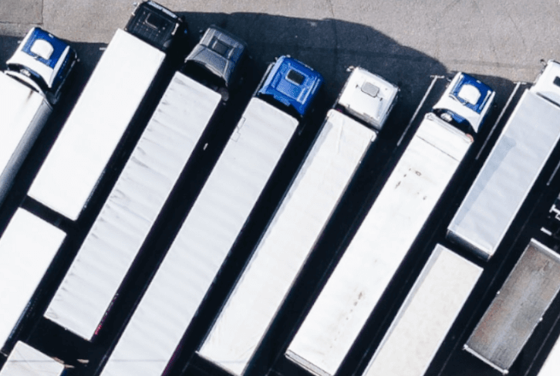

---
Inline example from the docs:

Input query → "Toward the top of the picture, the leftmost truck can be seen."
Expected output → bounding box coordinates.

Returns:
[0,25,90,234]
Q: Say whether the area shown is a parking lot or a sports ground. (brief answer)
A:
parking lot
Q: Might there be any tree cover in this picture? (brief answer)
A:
No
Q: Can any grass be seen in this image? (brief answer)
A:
No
